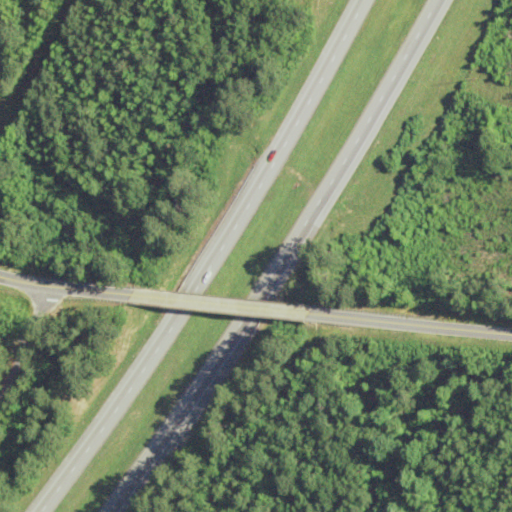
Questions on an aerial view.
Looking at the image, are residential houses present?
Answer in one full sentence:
No, the scene contains no residential house.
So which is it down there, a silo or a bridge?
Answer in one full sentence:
Of the two, only a bridge appears.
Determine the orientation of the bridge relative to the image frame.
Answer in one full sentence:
In this picture, the bridge lies horizontally.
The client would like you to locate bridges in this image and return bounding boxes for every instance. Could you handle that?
[125,286,312,324]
